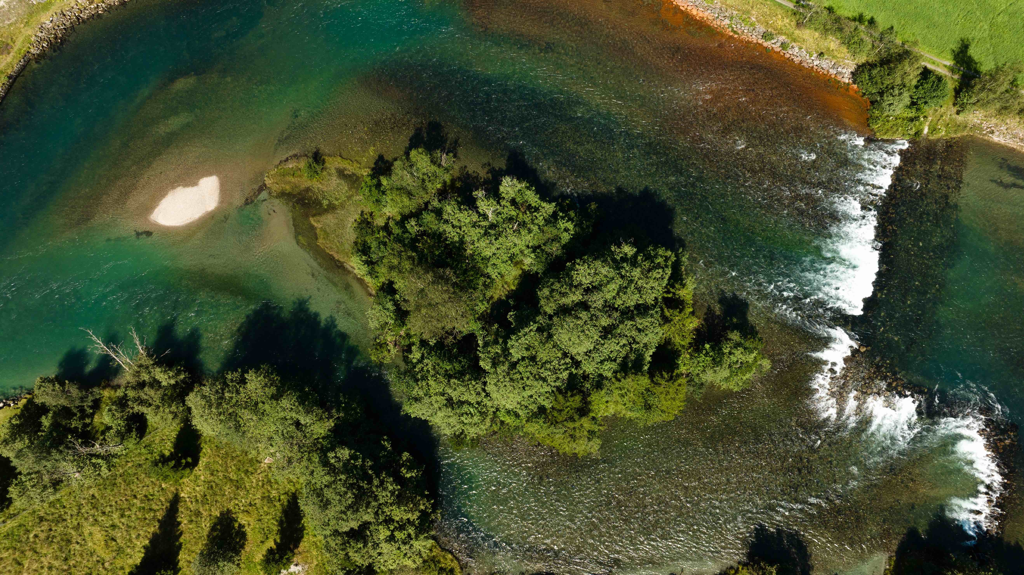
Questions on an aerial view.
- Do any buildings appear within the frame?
No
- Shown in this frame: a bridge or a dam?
dam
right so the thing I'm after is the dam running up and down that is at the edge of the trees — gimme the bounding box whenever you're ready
[831,136,1020,553]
